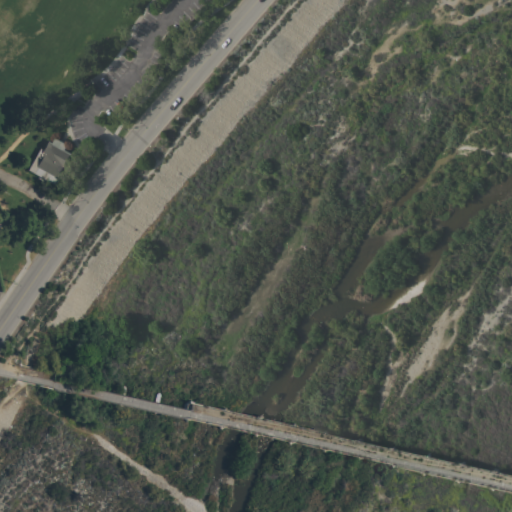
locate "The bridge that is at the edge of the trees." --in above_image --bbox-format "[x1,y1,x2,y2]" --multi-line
[187,401,512,494]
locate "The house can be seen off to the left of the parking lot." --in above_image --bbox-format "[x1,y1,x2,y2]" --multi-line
[30,140,71,182]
